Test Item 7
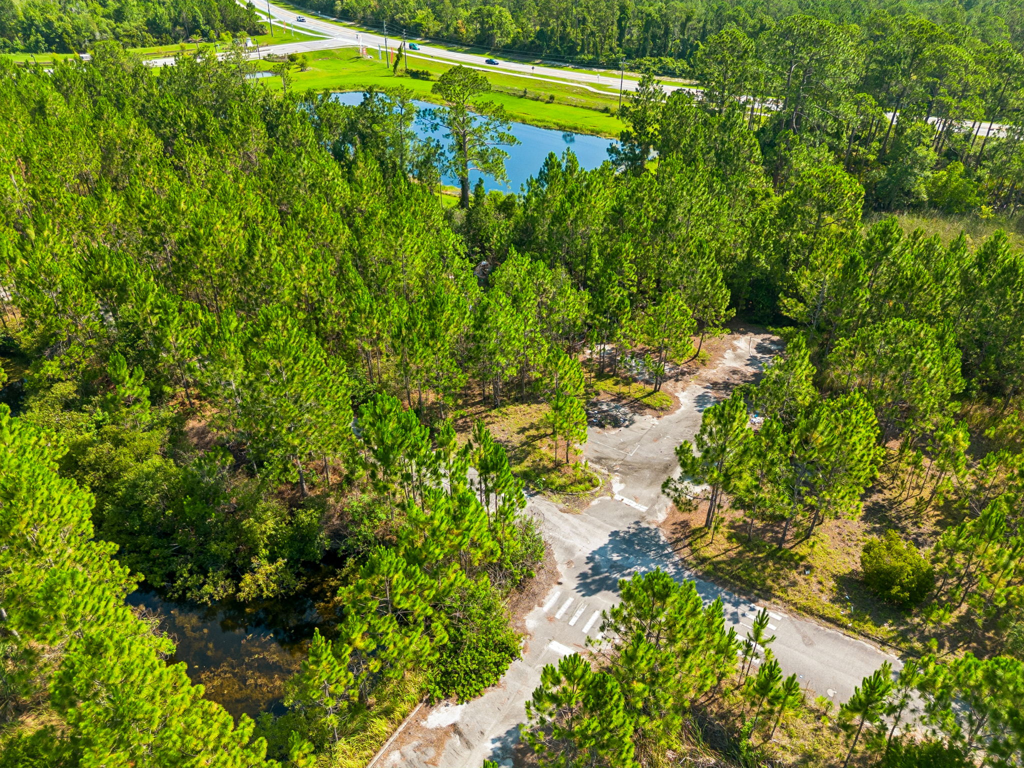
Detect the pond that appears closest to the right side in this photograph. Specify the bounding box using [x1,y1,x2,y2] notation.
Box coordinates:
[316,92,649,191]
